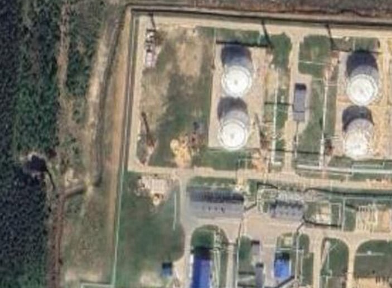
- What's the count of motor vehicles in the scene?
none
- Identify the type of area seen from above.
industrial area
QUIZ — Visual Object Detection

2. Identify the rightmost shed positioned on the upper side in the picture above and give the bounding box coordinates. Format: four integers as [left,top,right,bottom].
[293,88,306,121]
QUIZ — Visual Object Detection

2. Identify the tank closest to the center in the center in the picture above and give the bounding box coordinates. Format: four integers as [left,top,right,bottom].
[216,111,250,150]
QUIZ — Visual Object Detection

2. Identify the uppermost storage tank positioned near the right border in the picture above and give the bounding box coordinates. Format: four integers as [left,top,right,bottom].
[345,64,381,105]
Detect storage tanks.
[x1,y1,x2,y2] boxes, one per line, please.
[341,117,375,158]
[221,56,254,96]
[216,111,250,150]
[345,64,381,105]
